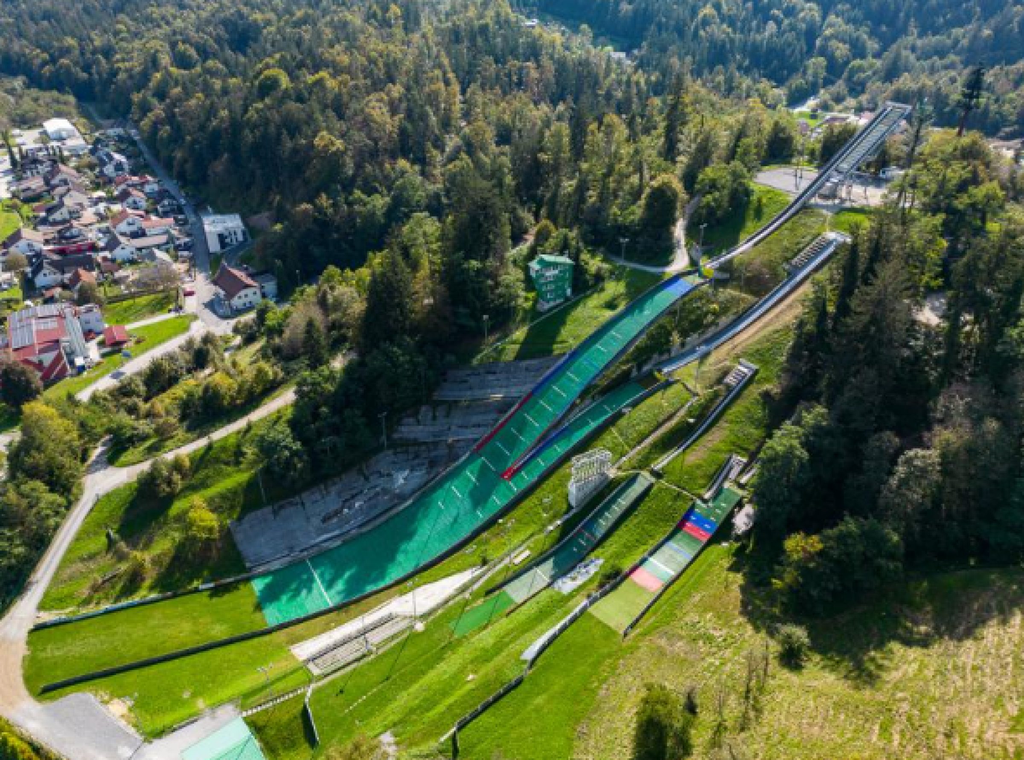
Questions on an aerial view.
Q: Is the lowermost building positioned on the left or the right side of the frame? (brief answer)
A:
left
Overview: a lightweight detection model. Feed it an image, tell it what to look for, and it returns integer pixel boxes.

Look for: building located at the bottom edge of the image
[179,716,263,760]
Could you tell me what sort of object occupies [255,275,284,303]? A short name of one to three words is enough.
house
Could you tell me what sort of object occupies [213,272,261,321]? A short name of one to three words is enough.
house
